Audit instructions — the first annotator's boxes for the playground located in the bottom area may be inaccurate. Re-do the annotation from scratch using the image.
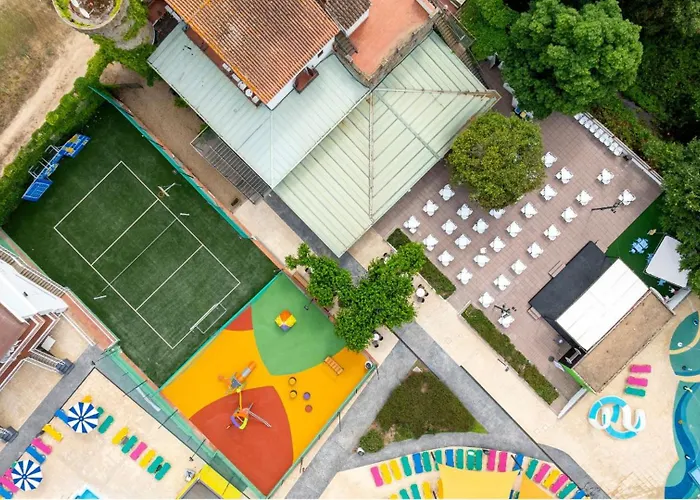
[166,276,375,495]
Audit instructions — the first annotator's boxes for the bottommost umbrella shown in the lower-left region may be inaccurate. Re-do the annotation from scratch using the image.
[14,458,45,490]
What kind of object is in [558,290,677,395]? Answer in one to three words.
shed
